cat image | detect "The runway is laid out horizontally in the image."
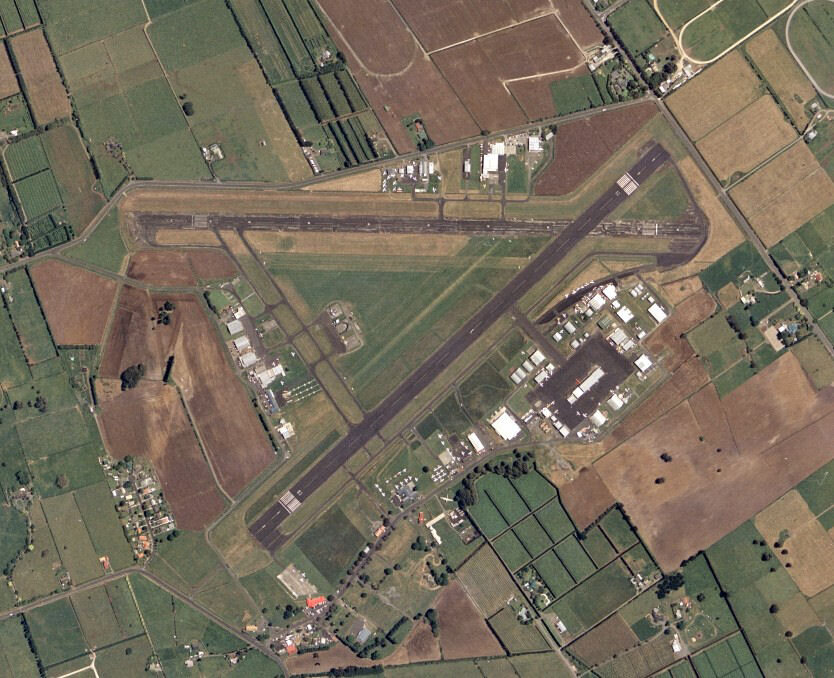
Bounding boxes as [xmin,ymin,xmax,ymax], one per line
[137,213,706,236]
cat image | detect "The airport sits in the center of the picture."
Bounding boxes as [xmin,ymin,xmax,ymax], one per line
[120,107,746,615]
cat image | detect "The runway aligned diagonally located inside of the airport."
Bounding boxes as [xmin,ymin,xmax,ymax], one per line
[249,143,670,542]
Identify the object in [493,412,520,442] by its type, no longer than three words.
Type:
hangar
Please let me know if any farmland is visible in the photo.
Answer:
Yes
